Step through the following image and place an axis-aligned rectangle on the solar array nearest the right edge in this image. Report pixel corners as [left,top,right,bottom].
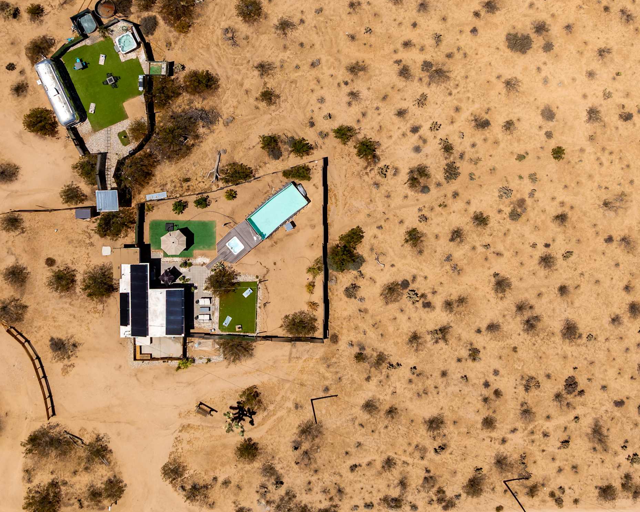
[166,290,184,335]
